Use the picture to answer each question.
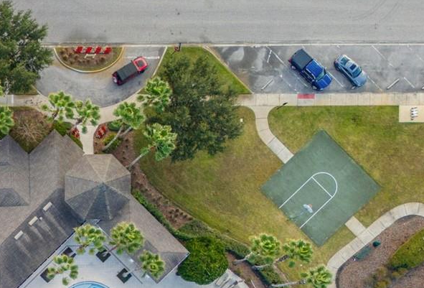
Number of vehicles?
3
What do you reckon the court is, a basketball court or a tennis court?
basketball court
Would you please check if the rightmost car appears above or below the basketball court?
above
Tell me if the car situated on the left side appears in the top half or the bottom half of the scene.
top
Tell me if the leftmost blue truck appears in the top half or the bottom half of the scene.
top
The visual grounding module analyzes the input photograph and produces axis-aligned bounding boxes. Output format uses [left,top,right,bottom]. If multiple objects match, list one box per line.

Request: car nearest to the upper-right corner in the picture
[332,53,368,89]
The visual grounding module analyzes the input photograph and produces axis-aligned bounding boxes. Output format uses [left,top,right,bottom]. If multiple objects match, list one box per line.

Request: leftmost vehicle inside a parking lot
[110,56,150,86]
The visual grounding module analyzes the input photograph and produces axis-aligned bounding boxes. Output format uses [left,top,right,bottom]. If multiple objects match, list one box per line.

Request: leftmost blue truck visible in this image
[287,47,333,93]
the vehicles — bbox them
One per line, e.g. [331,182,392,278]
[332,53,368,89]
[110,56,150,86]
[287,47,333,93]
